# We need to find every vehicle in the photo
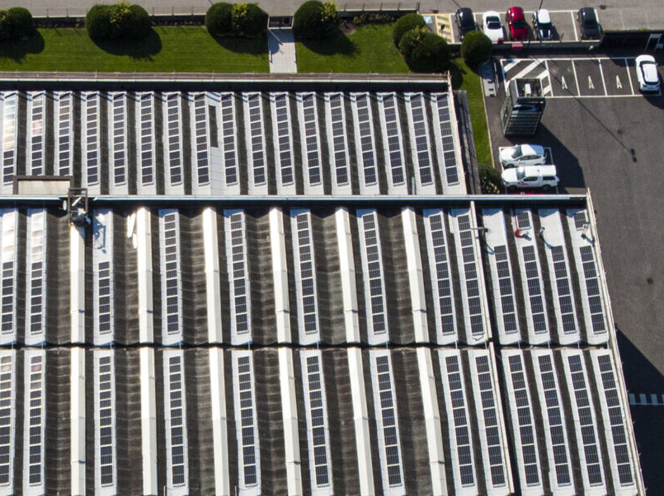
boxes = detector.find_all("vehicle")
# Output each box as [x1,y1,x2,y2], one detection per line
[577,2,603,38]
[637,53,662,87]
[486,6,508,38]
[502,160,559,187]
[499,143,548,165]
[533,6,555,36]
[455,1,480,36]
[506,5,528,37]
